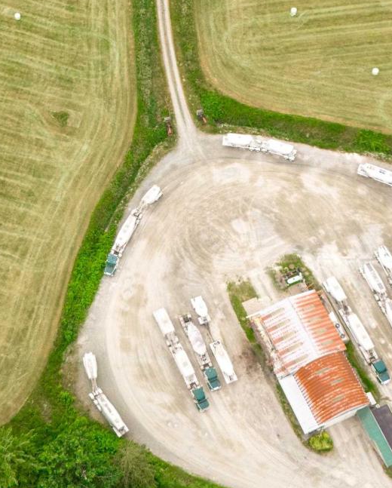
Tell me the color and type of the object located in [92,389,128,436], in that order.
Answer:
white trailer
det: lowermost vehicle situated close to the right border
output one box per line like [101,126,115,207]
[370,343,392,387]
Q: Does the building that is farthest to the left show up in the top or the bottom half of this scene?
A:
bottom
